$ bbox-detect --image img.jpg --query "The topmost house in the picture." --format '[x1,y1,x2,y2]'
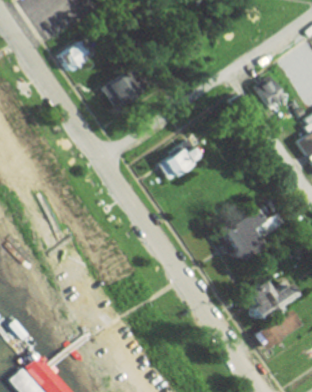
[58,44,90,68]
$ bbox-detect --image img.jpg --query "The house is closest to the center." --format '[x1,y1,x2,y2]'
[159,144,204,180]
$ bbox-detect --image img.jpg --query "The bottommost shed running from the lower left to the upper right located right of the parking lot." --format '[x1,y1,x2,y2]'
[261,312,300,346]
